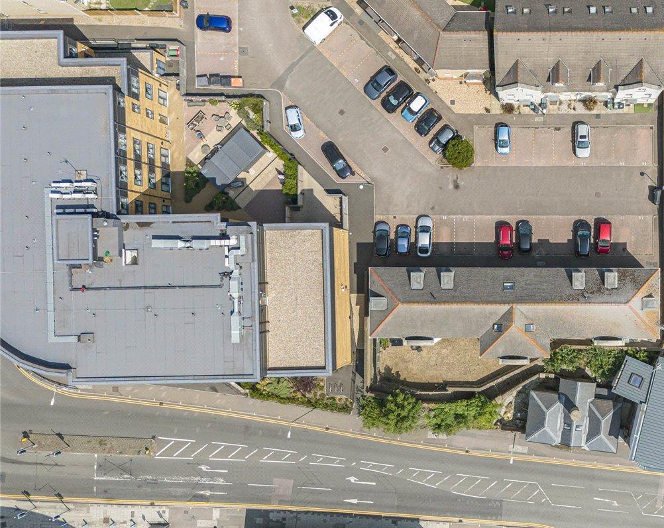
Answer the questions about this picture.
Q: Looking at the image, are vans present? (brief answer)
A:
Yes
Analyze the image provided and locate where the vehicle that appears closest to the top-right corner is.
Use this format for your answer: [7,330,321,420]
[573,122,591,158]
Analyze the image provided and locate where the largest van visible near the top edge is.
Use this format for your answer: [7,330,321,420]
[305,7,341,46]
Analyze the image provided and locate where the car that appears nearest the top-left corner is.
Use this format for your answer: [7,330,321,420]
[199,13,232,32]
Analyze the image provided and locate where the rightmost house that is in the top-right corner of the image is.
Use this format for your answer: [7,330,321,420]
[493,0,664,100]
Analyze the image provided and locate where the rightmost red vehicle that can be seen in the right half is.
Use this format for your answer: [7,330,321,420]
[595,221,612,253]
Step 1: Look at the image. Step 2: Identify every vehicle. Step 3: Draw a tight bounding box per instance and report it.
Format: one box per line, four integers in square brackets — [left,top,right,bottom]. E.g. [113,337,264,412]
[366,67,395,98]
[286,106,307,139]
[322,141,350,178]
[374,222,392,259]
[305,7,341,46]
[431,125,456,153]
[497,225,514,257]
[384,83,413,115]
[415,218,433,255]
[403,93,428,122]
[395,226,411,254]
[199,13,232,32]
[575,221,593,257]
[595,221,612,253]
[573,122,591,158]
[417,108,442,137]
[516,222,532,254]
[495,123,512,155]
